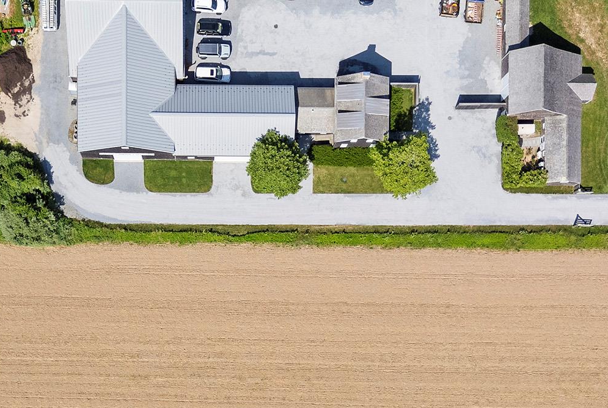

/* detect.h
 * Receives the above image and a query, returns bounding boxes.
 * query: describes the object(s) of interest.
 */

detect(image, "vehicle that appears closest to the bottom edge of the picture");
[194,65,231,84]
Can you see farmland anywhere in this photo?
Yes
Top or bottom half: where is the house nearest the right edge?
top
